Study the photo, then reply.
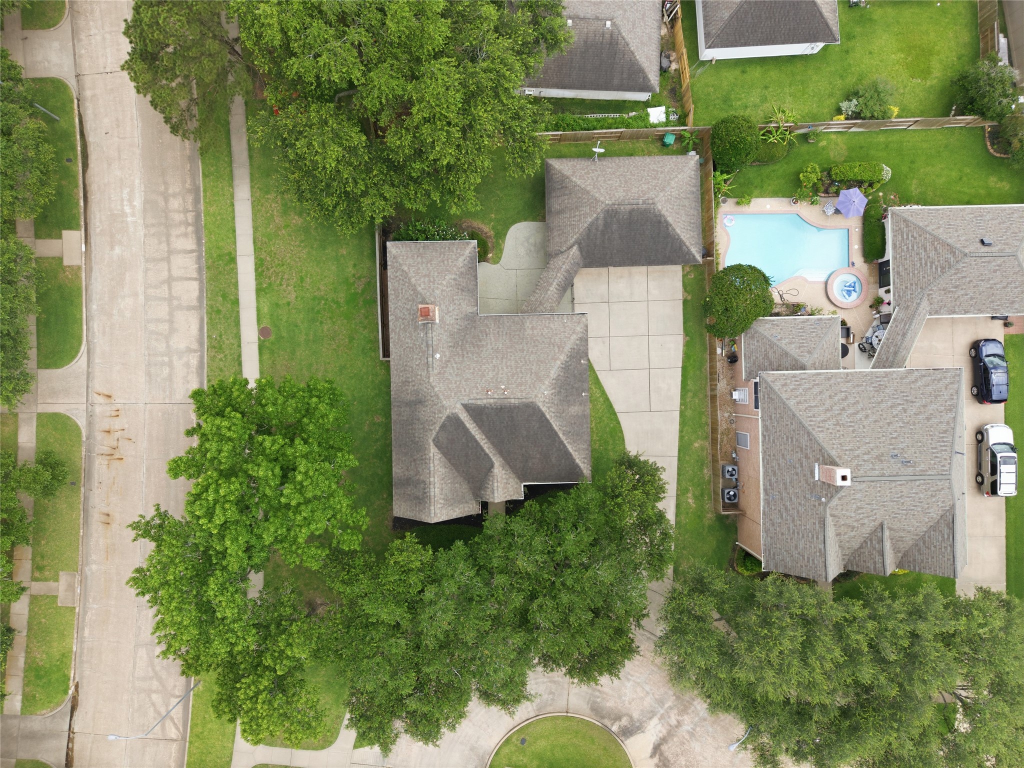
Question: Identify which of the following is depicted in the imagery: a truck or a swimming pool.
swimming pool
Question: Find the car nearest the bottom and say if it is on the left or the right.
right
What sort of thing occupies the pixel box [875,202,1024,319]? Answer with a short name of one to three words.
house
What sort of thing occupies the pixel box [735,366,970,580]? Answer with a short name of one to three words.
house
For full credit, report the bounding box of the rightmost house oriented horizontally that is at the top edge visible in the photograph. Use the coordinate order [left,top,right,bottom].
[696,0,843,61]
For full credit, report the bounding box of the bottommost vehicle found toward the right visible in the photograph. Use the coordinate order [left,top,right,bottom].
[977,423,1020,495]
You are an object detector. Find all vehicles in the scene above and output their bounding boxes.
[971,339,1012,404]
[977,423,1020,495]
